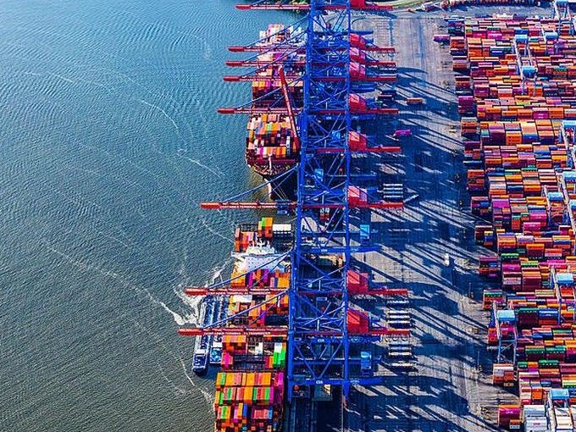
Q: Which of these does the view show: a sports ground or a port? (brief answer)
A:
port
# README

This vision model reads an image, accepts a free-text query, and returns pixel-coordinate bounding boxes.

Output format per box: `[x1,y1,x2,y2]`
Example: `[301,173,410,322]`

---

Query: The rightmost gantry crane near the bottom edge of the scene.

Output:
[548,385,575,432]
